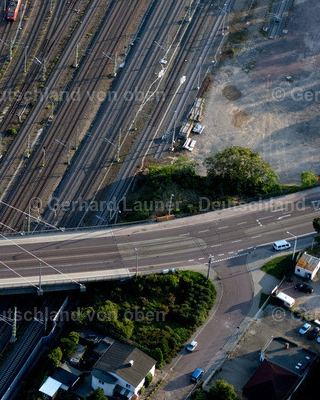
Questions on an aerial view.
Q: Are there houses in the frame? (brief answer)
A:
Yes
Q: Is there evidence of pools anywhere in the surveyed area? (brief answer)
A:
No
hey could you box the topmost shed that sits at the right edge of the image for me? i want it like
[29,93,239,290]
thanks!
[294,253,320,281]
